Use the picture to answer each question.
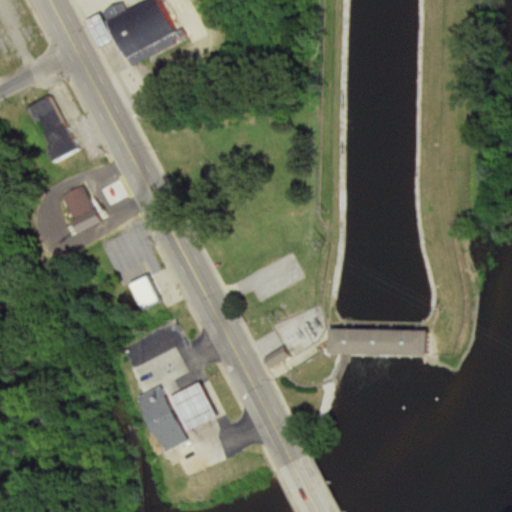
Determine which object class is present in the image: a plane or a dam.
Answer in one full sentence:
There is a dam in the scene.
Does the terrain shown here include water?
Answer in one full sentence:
Yes, there is water in the image.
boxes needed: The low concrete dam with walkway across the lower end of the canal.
[324,321,440,383]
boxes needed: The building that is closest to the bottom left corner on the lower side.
[139,386,188,450]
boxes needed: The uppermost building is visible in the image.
[103,0,185,64]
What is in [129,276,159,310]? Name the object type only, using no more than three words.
building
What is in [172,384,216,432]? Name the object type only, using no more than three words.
building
